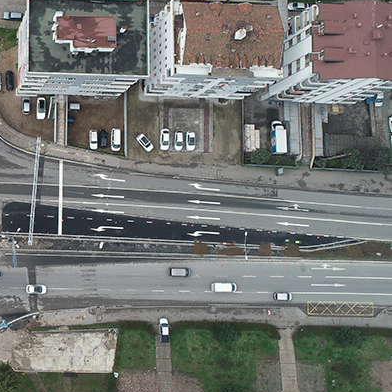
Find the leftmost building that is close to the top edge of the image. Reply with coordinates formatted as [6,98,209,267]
[14,0,151,100]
